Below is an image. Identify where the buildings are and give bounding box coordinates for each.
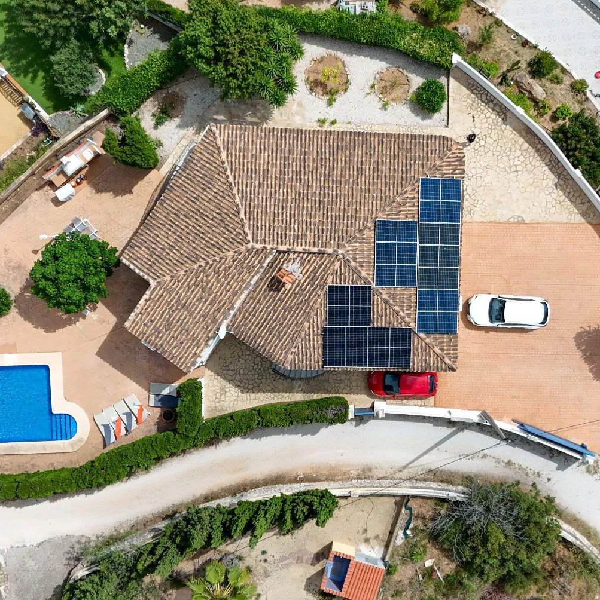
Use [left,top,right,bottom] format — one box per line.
[315,532,386,600]
[119,121,465,377]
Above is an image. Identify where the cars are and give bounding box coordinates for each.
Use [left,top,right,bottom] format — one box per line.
[464,292,547,331]
[367,370,436,404]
